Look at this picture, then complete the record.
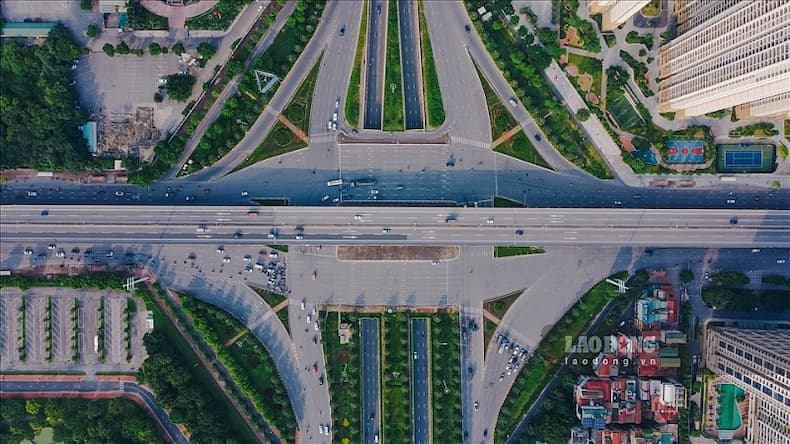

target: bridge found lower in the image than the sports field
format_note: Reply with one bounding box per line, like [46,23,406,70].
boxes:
[0,205,790,249]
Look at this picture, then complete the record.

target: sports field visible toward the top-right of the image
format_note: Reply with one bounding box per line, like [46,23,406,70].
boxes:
[607,91,647,132]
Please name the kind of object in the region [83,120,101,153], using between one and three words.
shed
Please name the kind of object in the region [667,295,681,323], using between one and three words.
house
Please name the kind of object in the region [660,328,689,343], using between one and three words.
house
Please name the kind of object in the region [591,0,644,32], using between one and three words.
building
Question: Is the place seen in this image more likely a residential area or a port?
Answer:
residential area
